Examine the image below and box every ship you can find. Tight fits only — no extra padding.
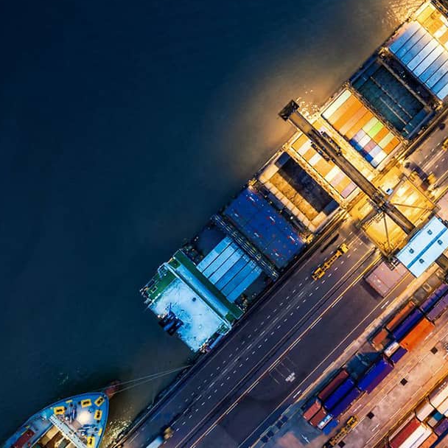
[4,372,129,448]
[142,0,448,352]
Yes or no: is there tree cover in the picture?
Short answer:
No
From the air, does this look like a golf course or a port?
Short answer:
port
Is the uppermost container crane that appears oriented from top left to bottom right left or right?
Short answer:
right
